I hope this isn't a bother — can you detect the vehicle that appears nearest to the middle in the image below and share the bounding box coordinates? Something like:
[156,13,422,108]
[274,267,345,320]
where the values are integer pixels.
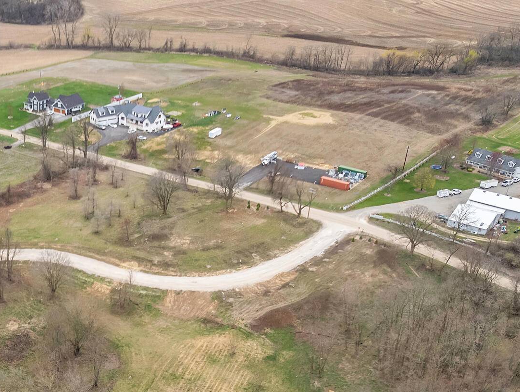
[262,149,278,163]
